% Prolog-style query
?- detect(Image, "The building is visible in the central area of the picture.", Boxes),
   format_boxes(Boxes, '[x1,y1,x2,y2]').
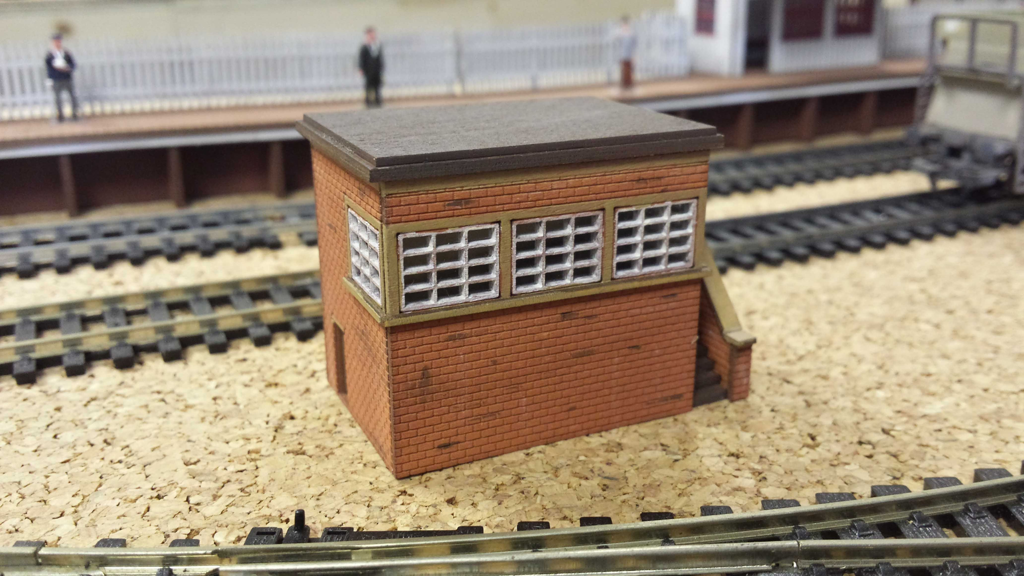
[299,98,742,477]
